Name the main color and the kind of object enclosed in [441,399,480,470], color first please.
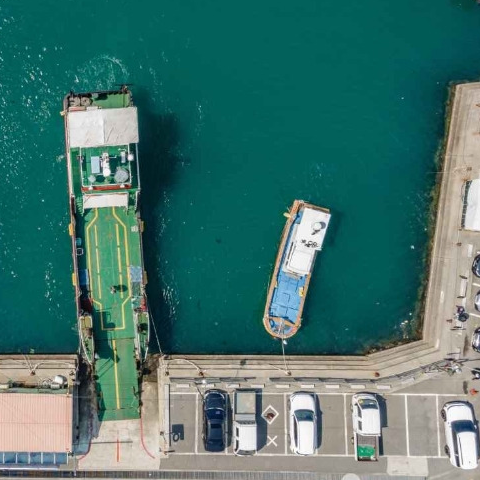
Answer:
white car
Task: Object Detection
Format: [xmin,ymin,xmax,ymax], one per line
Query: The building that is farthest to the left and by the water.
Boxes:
[0,385,73,469]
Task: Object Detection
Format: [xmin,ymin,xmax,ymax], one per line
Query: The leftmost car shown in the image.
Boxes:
[202,387,230,452]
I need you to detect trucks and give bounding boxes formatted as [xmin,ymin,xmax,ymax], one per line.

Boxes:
[352,393,384,461]
[232,389,261,456]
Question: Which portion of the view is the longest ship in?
left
